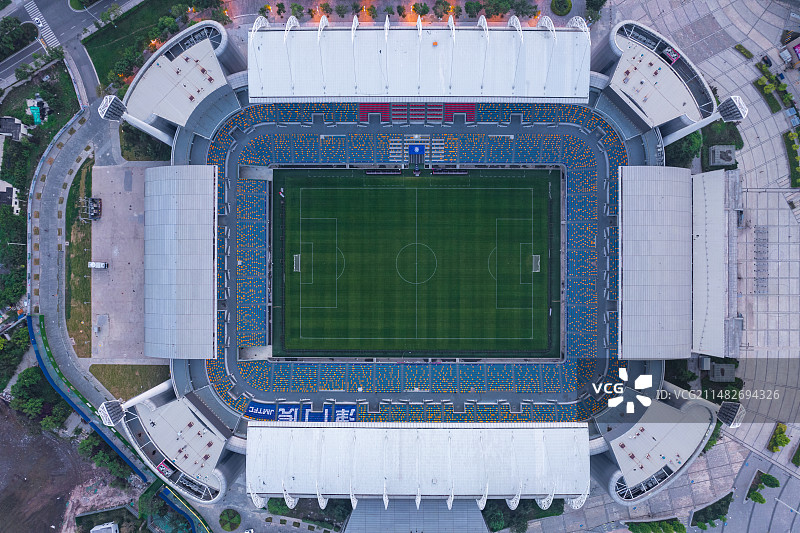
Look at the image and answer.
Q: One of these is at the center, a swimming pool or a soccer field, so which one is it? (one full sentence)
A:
Visible at the center is a soccer field.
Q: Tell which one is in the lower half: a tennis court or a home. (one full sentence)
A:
It is a home that can be seen in the lower half.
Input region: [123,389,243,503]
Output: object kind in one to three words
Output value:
building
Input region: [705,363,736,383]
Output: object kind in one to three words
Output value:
house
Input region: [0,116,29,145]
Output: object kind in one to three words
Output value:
house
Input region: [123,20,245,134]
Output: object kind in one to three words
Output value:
building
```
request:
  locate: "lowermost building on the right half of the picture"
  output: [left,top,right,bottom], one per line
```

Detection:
[591,389,717,506]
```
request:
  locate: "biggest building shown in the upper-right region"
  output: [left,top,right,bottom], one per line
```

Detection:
[591,20,716,134]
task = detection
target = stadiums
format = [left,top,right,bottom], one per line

[145,20,743,533]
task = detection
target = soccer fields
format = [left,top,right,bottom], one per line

[273,169,562,358]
